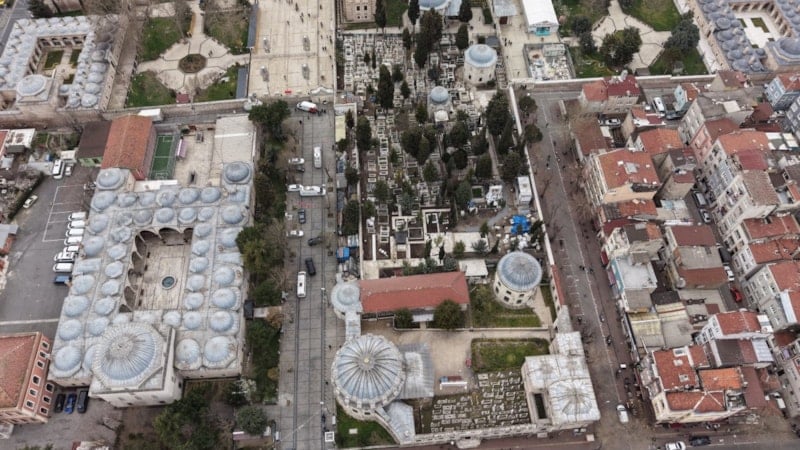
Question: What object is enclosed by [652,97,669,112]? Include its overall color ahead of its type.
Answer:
white vehicle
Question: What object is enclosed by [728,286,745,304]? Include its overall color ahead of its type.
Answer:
red car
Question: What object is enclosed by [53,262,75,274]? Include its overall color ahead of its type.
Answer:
white vehicle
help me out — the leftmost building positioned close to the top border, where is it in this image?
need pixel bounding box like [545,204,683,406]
[0,14,133,130]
